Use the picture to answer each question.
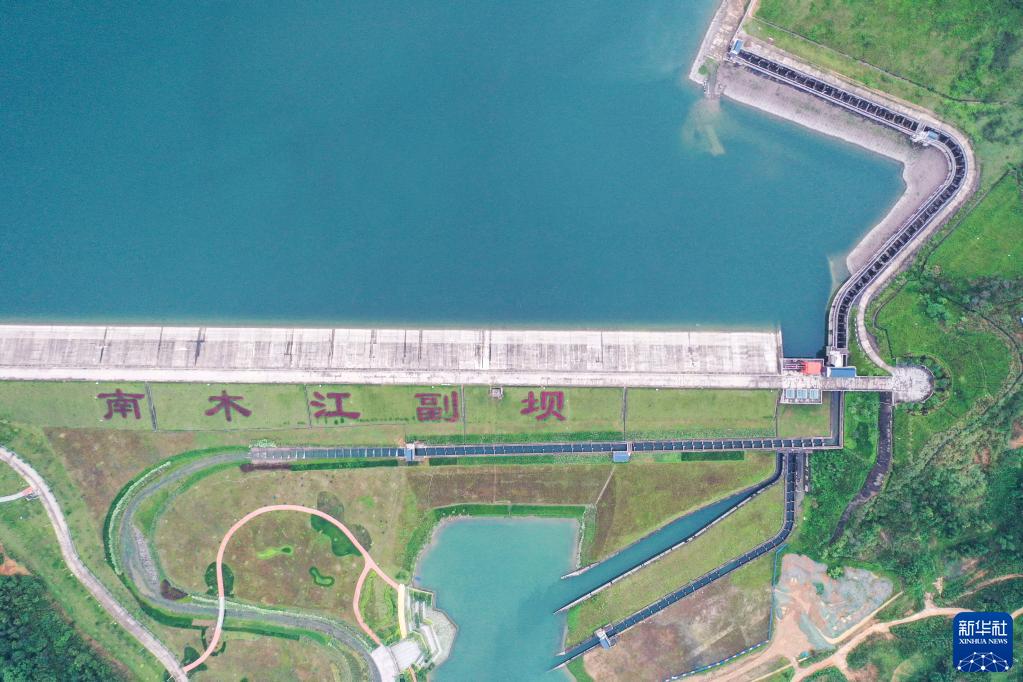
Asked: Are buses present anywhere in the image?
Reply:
No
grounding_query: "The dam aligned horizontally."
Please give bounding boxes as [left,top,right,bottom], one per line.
[0,325,894,439]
